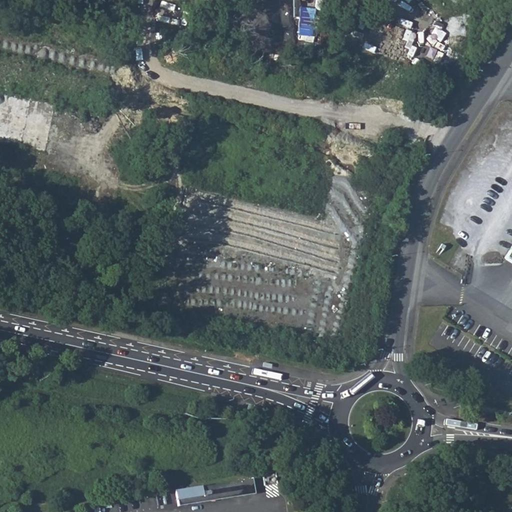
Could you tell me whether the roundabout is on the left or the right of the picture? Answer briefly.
right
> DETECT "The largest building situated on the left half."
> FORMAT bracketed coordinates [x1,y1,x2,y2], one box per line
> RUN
[178,486,210,504]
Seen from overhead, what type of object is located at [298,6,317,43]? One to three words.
building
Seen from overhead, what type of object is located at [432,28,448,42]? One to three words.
camper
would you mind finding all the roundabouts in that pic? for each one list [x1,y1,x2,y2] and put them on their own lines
[330,372,431,472]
